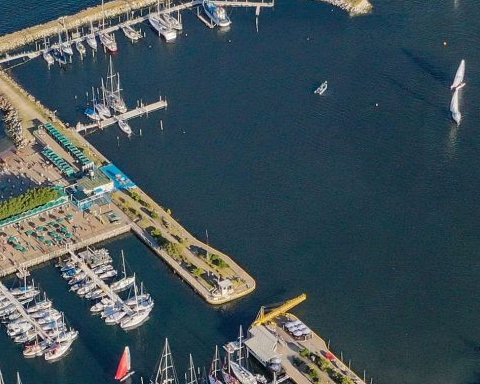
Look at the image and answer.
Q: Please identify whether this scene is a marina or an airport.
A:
marina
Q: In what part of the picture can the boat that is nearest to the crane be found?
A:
bottom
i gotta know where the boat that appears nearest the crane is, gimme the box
[231,307,260,384]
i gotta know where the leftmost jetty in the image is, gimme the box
[0,277,59,346]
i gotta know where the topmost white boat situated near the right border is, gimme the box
[447,59,469,91]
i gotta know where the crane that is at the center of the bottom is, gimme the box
[250,292,306,326]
